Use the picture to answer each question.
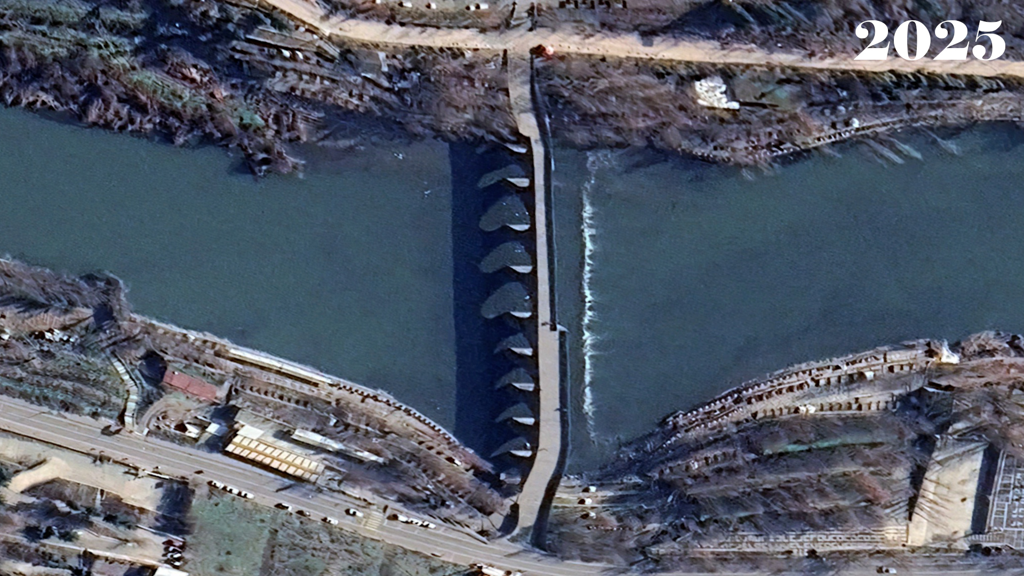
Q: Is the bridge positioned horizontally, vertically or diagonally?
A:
vertically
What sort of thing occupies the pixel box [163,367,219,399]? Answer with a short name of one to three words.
house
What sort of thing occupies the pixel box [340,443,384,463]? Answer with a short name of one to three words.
shed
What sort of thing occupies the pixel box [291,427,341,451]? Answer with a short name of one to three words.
shed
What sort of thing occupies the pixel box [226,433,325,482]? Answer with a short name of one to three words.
building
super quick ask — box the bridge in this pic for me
[506,52,571,540]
